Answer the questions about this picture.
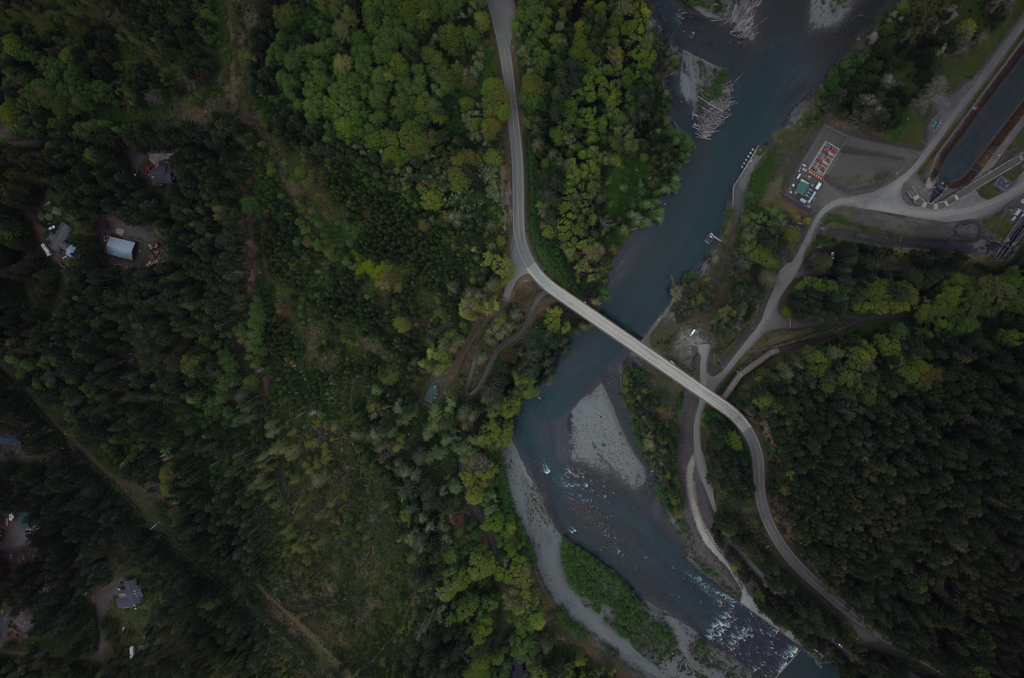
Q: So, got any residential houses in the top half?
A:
Yes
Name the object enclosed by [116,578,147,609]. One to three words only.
house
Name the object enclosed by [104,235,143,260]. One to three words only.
barn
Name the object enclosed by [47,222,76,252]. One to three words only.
house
